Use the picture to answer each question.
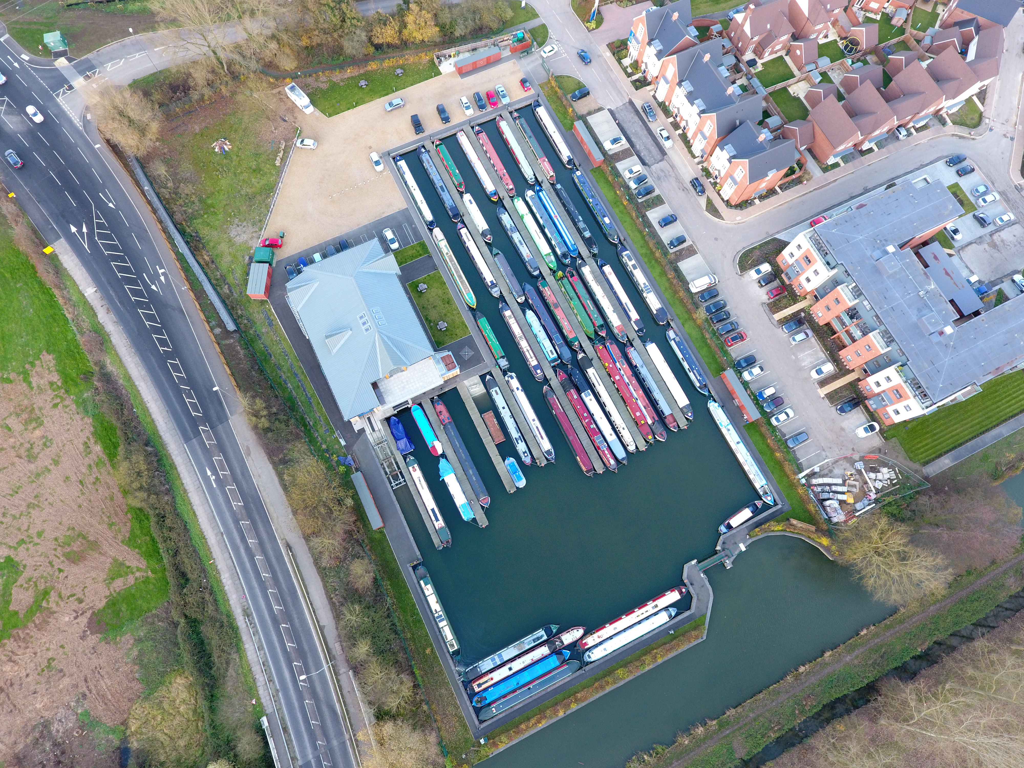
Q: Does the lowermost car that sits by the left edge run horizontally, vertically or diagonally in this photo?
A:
diagonally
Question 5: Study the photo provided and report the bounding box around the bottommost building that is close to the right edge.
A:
[777,182,1024,426]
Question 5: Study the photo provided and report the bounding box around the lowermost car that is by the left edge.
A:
[4,150,25,170]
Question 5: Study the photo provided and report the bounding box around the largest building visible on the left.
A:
[286,236,461,429]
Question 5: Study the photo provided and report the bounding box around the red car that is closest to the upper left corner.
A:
[260,237,283,250]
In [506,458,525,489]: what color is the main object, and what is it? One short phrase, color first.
blue boat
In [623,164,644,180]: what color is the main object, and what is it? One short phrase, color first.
white car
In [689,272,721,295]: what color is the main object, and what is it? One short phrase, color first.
white vehicle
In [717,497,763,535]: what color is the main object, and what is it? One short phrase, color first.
white boat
